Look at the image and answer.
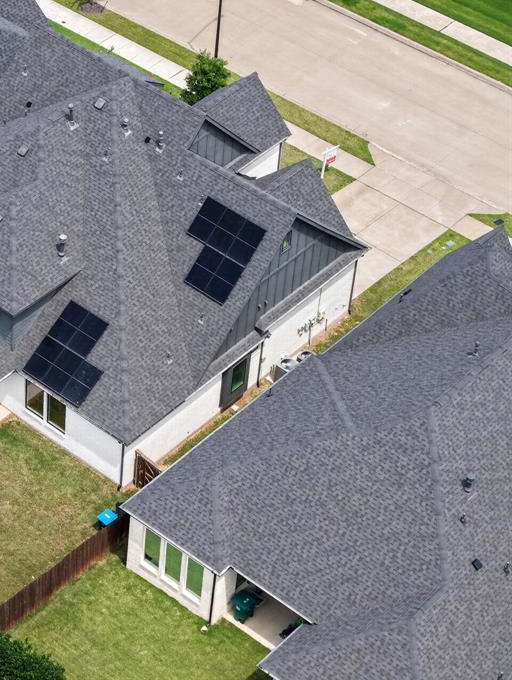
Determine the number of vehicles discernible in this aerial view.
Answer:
0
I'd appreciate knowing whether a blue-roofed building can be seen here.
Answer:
No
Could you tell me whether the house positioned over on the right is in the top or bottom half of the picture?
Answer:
bottom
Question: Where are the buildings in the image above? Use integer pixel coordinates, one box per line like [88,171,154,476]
[119,225,512,680]
[0,23,369,492]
